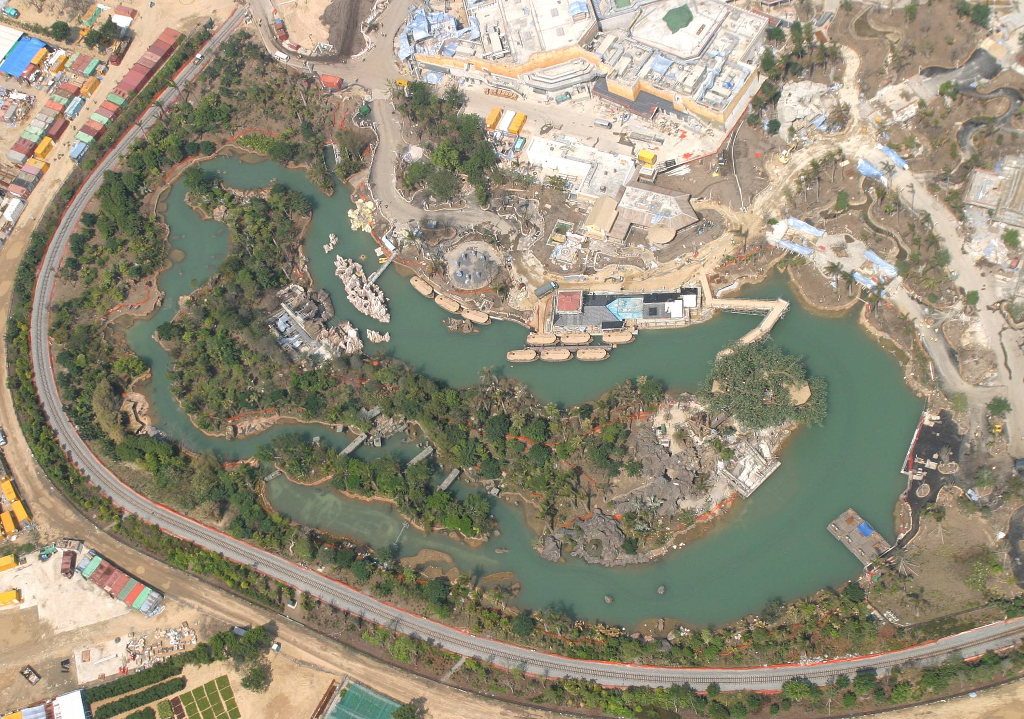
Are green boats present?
No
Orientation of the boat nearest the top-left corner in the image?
on a diagonal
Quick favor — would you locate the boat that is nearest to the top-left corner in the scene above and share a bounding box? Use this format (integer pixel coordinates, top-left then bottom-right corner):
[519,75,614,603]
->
[409,278,437,301]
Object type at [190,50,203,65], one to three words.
vehicle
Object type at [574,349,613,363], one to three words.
boat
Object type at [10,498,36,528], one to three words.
building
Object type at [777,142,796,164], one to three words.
work vehicle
